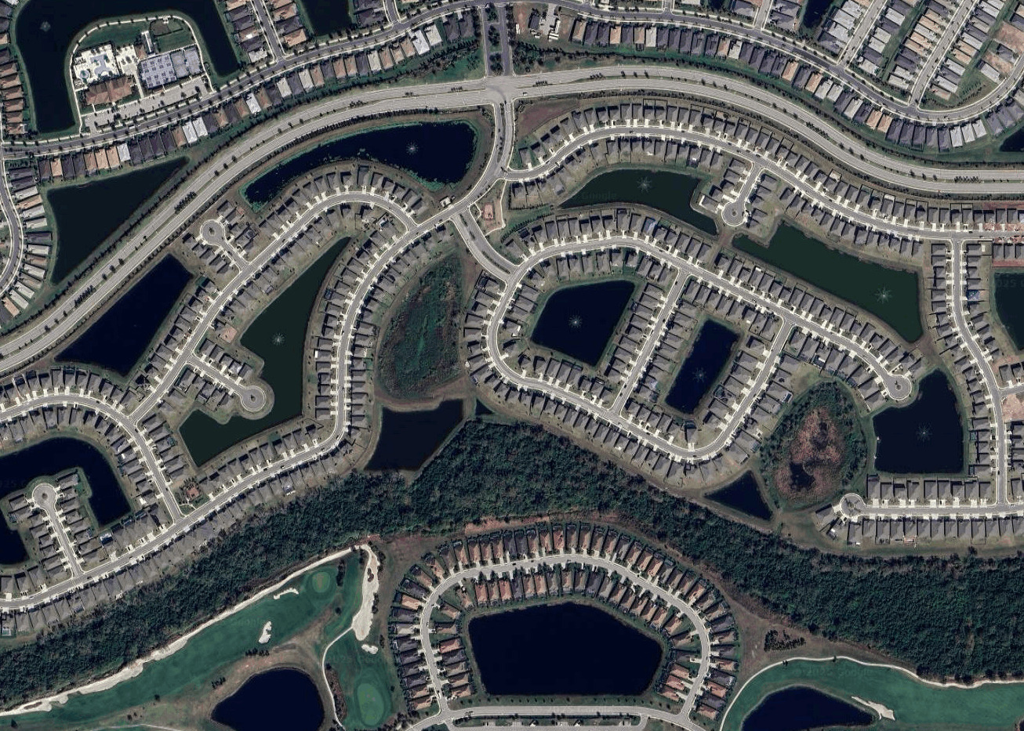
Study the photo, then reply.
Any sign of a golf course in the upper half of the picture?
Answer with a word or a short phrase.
No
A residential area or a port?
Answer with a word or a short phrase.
residential area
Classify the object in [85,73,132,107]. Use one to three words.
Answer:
building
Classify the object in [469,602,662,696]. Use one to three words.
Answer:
pond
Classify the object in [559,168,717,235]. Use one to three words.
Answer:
pond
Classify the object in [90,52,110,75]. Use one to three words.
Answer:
swimming pool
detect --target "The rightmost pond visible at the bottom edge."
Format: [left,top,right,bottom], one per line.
[742,686,873,731]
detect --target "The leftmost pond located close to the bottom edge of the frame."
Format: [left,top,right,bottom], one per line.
[211,669,324,731]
